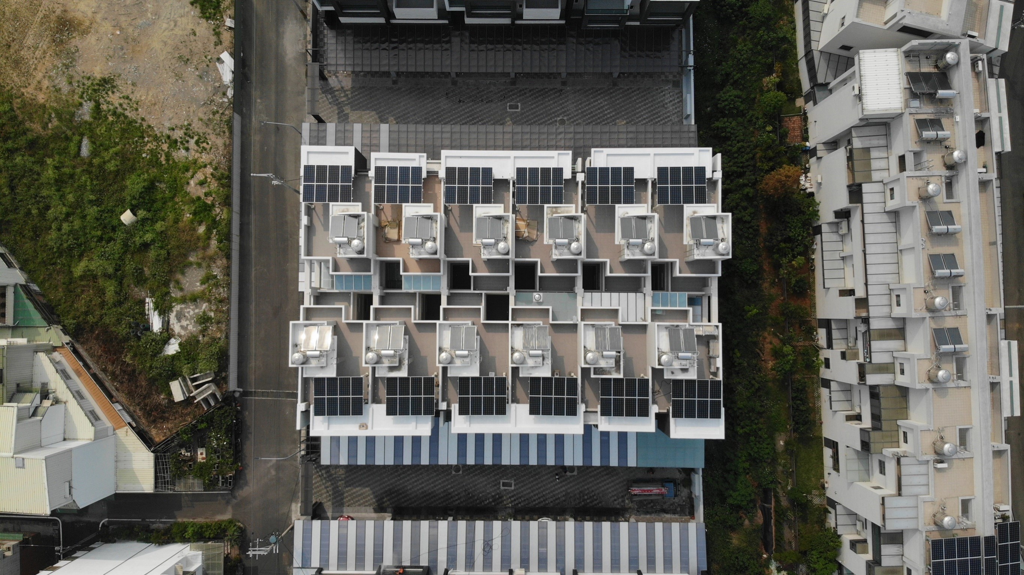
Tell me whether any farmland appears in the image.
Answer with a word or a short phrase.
No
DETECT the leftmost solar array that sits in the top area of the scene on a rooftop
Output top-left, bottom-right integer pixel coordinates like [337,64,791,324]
[303,165,357,206]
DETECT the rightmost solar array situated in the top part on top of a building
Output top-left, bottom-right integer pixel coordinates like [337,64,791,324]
[652,167,706,208]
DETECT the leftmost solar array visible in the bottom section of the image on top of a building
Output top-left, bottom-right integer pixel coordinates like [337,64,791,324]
[314,371,369,416]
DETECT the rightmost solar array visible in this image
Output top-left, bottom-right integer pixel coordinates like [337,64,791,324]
[919,535,988,575]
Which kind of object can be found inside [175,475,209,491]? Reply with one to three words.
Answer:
shed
